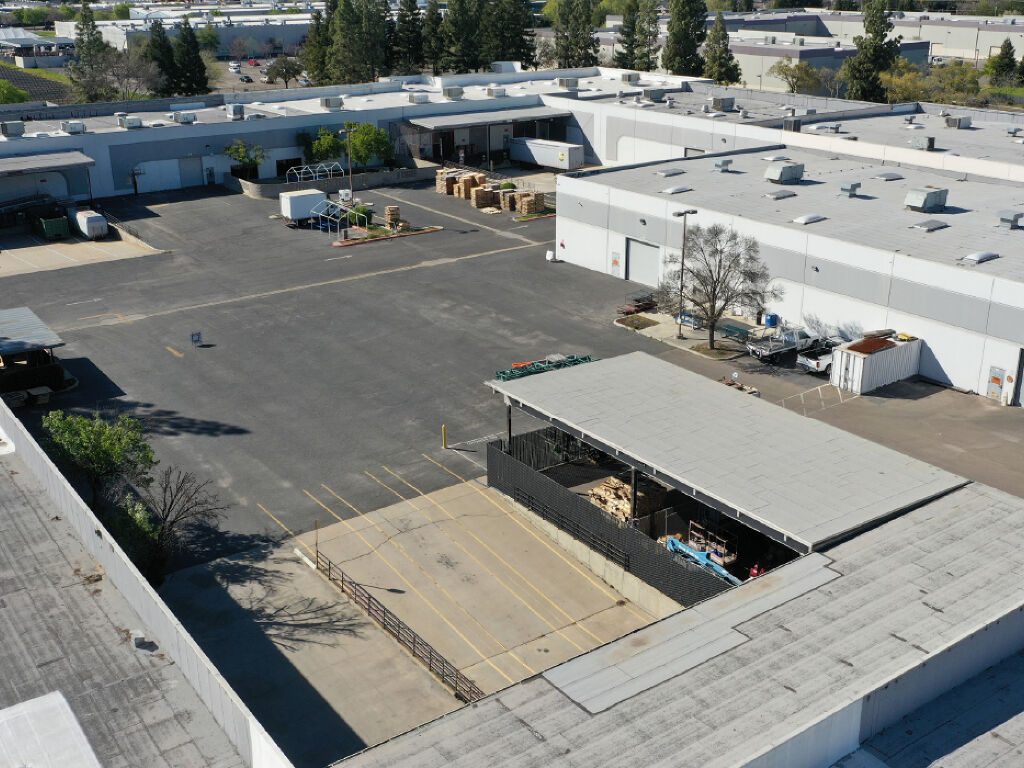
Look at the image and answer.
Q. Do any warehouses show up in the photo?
Yes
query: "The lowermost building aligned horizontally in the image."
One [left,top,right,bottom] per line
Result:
[314,479,1024,768]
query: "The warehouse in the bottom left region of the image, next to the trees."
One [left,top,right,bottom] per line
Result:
[0,399,294,768]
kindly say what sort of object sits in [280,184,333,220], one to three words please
trailer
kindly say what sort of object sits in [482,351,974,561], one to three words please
shed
